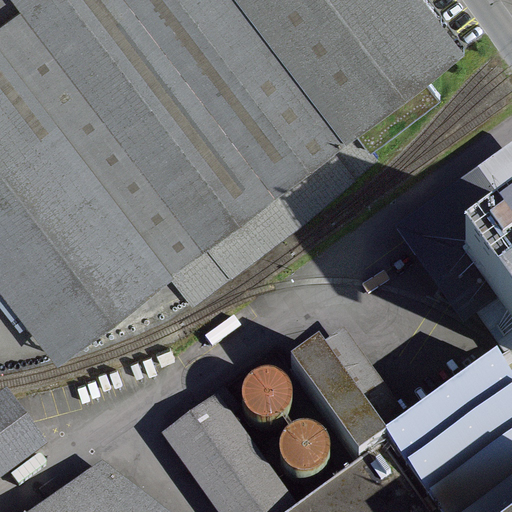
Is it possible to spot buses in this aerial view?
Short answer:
Yes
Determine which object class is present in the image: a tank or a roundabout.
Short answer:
tank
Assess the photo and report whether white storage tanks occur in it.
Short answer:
No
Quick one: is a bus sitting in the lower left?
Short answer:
Yes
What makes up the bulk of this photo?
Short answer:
buildings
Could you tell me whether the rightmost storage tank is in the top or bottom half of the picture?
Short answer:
bottom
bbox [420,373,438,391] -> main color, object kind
black car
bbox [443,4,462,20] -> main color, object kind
white car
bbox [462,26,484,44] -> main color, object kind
white car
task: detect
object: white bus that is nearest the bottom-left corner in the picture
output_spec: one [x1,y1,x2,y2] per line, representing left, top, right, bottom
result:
[11,450,49,486]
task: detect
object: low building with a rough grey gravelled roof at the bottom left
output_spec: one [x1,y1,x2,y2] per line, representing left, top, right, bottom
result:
[24,460,155,512]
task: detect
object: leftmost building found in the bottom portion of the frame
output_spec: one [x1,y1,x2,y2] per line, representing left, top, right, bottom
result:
[0,388,48,482]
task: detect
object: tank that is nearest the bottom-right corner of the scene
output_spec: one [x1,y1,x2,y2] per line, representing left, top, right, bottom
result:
[279,421,331,482]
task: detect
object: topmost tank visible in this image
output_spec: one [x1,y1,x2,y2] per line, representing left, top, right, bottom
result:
[242,367,294,430]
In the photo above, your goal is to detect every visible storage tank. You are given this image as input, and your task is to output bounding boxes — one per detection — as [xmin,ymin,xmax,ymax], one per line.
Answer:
[242,367,294,430]
[279,421,331,482]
